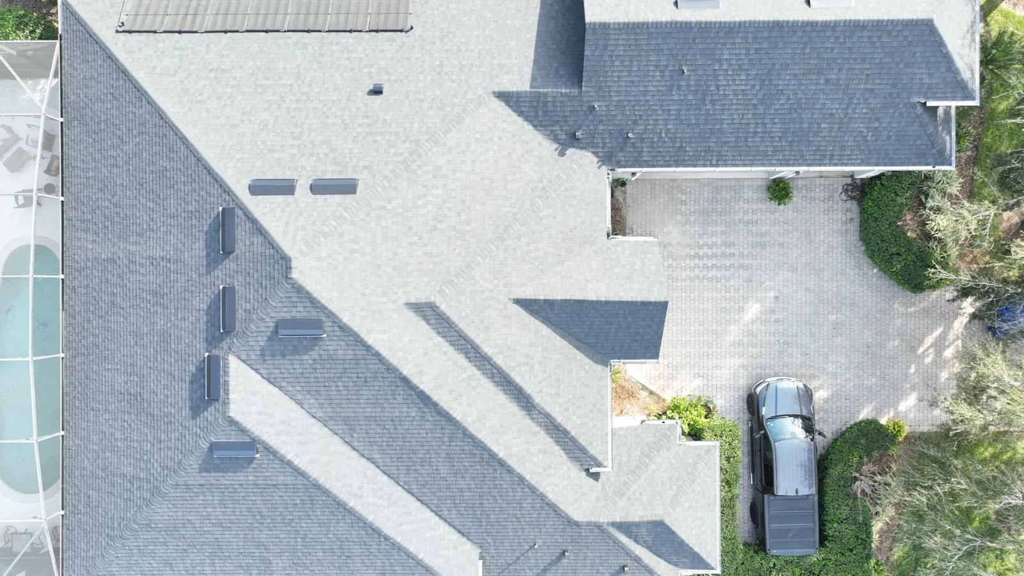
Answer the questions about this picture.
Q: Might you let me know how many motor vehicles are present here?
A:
one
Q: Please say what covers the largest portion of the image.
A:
buildings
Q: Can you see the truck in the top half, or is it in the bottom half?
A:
bottom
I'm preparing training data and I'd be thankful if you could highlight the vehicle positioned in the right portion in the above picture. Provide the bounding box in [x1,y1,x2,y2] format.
[743,374,827,554]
